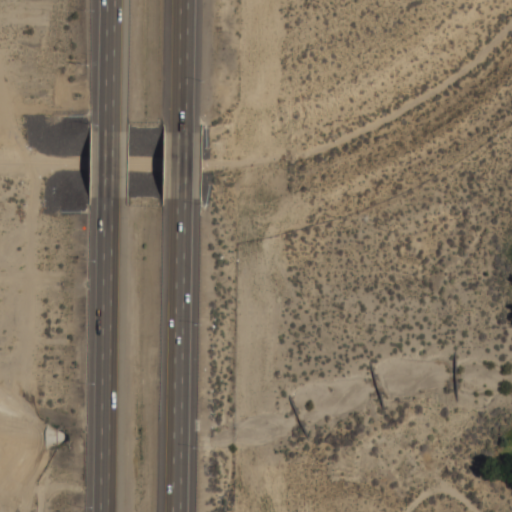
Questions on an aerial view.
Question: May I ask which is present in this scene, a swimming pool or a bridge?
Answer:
bridge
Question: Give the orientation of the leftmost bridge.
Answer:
vertically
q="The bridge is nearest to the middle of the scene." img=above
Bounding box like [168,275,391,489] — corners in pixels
[163,124,202,206]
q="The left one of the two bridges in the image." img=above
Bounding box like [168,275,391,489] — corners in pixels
[90,124,128,206]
